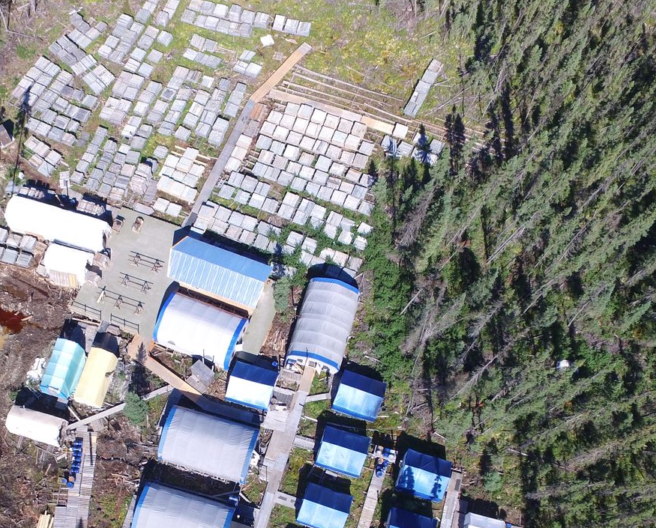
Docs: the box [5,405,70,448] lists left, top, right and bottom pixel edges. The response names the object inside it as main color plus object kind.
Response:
white tent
